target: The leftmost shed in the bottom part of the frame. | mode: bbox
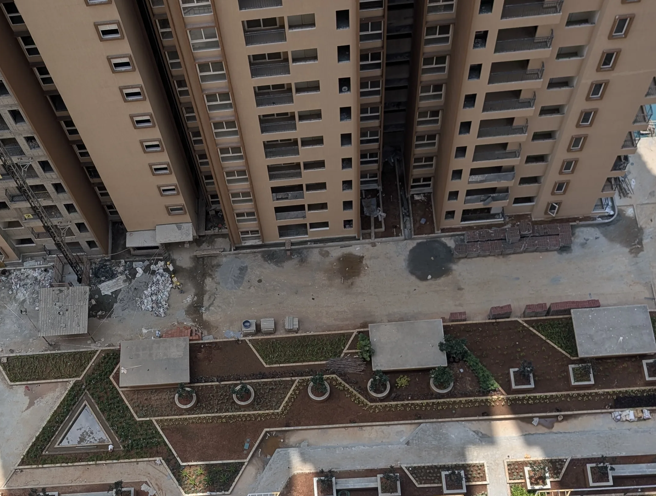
[38,286,98,348]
